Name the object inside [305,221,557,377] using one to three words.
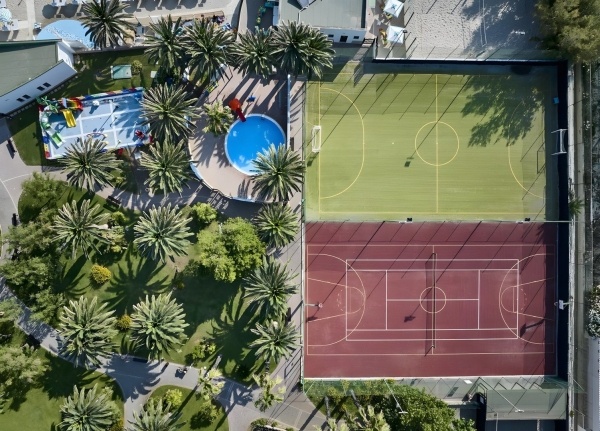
tennis court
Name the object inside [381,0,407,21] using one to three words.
umbrella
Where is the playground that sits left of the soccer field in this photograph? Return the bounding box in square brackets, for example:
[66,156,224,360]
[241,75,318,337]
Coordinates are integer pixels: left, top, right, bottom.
[36,84,153,163]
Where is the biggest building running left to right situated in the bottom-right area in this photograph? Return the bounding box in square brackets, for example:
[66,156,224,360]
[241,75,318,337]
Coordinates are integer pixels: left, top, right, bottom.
[478,388,560,419]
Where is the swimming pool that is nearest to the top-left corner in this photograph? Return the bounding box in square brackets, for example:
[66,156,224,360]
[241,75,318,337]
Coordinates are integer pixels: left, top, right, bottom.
[36,16,96,50]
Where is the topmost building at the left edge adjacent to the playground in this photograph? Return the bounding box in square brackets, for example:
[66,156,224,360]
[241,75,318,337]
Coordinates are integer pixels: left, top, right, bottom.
[0,37,87,116]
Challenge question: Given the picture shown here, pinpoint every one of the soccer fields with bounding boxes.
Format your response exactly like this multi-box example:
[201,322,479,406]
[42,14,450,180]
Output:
[305,63,557,221]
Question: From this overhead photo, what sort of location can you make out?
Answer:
sports ground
